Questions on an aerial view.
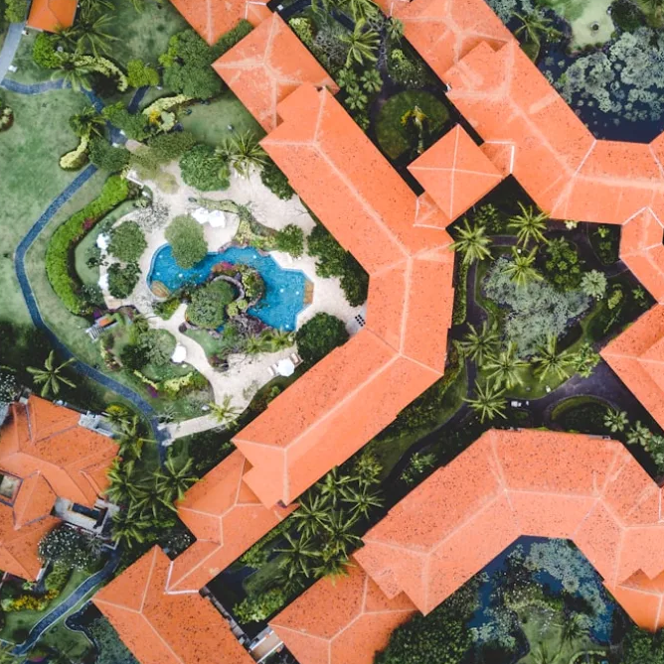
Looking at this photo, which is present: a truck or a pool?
pool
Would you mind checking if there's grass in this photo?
Yes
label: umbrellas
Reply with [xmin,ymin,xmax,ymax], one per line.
[278,359,294,376]
[173,345,189,361]
[96,235,111,249]
[194,207,210,223]
[97,274,111,288]
[210,211,226,227]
